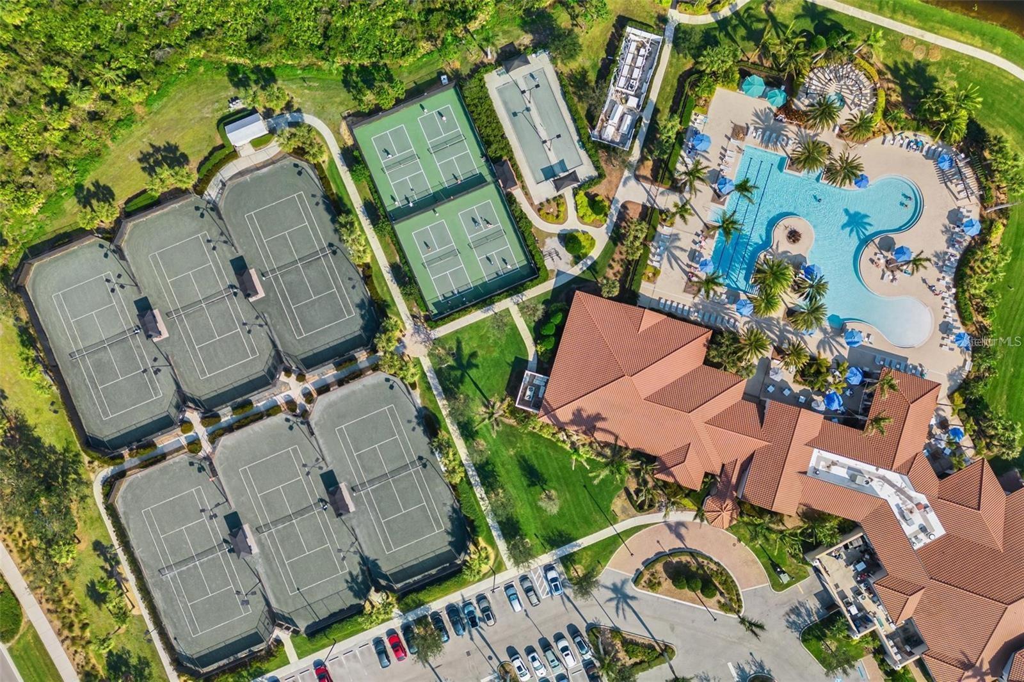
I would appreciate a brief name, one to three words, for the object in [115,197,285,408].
tennis court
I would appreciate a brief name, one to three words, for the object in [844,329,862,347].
umbrella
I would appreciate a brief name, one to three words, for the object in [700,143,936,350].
swimming pool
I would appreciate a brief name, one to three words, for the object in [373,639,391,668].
car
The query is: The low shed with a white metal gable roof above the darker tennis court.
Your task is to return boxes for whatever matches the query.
[225,113,271,147]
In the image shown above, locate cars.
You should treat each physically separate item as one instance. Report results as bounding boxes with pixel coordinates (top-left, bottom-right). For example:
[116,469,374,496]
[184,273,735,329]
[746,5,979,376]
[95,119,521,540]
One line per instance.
[463,600,481,629]
[401,624,418,653]
[388,632,405,661]
[554,668,569,682]
[314,660,332,682]
[528,648,547,675]
[545,566,563,595]
[511,652,530,681]
[573,630,592,658]
[373,639,391,668]
[504,583,522,612]
[478,595,496,624]
[431,612,449,640]
[447,606,465,635]
[544,643,563,672]
[557,637,577,665]
[583,659,602,682]
[521,577,539,606]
